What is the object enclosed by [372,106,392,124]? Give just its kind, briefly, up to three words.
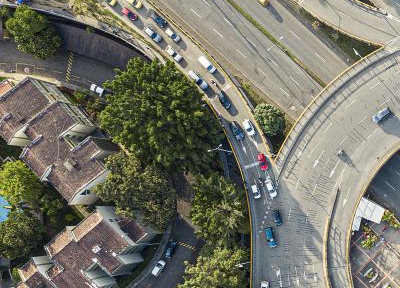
car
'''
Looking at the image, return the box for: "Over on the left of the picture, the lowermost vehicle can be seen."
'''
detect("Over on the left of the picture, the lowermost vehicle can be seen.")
[151,258,168,278]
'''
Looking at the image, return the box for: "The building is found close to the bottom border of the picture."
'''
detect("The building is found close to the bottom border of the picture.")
[16,209,163,288]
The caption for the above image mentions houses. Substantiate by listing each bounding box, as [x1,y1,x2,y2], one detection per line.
[0,73,138,206]
[16,209,163,288]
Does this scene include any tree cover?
Yes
